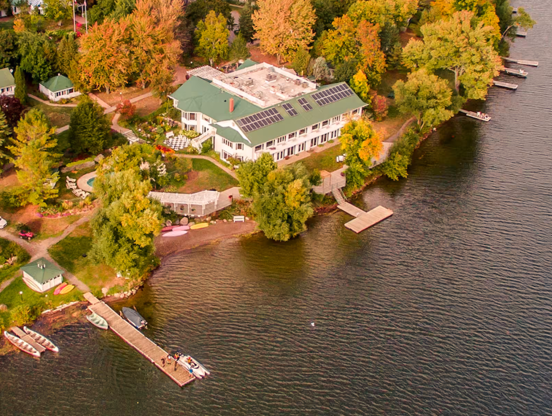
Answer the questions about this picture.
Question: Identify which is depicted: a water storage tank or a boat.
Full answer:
Visible in the photo is a boat.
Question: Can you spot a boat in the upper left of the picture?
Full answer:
No, no boat can be made out in the upper left of the picture.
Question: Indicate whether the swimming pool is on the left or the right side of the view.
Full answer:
It is on the left.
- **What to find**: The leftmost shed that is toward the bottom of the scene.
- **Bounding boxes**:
[18,254,64,292]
